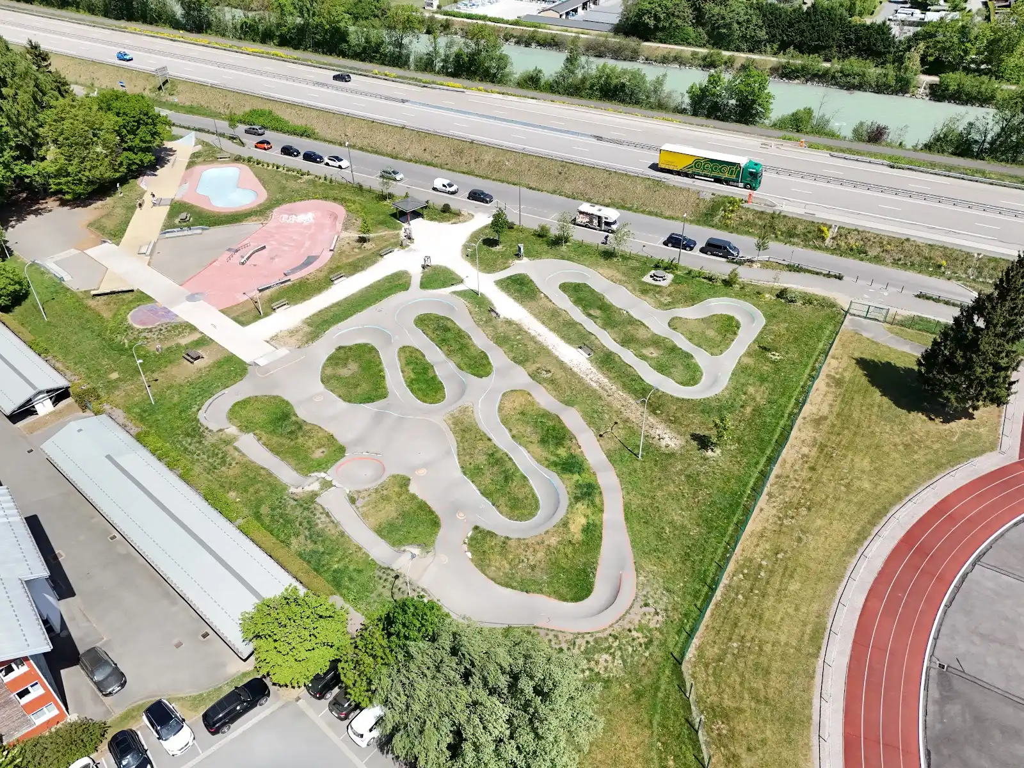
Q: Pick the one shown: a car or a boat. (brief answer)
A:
car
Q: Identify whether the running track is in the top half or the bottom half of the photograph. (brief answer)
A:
bottom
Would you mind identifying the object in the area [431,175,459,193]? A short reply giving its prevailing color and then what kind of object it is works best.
white vehicle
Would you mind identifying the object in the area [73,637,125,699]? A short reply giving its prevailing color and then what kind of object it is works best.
gray car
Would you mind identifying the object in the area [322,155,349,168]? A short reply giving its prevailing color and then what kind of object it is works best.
white vehicle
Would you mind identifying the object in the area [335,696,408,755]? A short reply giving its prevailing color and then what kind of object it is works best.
white car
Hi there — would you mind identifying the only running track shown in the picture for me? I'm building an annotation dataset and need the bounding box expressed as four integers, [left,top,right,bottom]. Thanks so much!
[842,414,1024,768]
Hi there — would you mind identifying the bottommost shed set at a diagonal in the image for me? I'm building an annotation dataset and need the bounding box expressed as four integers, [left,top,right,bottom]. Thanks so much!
[38,414,305,670]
